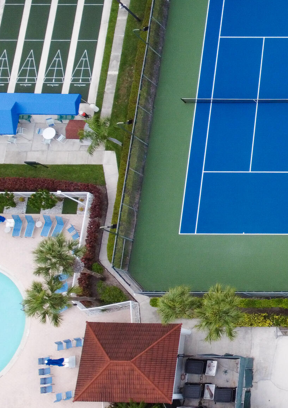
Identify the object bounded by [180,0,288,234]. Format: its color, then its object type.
blue tennis court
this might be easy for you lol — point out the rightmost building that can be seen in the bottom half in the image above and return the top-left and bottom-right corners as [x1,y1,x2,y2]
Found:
[72,321,194,404]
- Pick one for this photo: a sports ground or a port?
sports ground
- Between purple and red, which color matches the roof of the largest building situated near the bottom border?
red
